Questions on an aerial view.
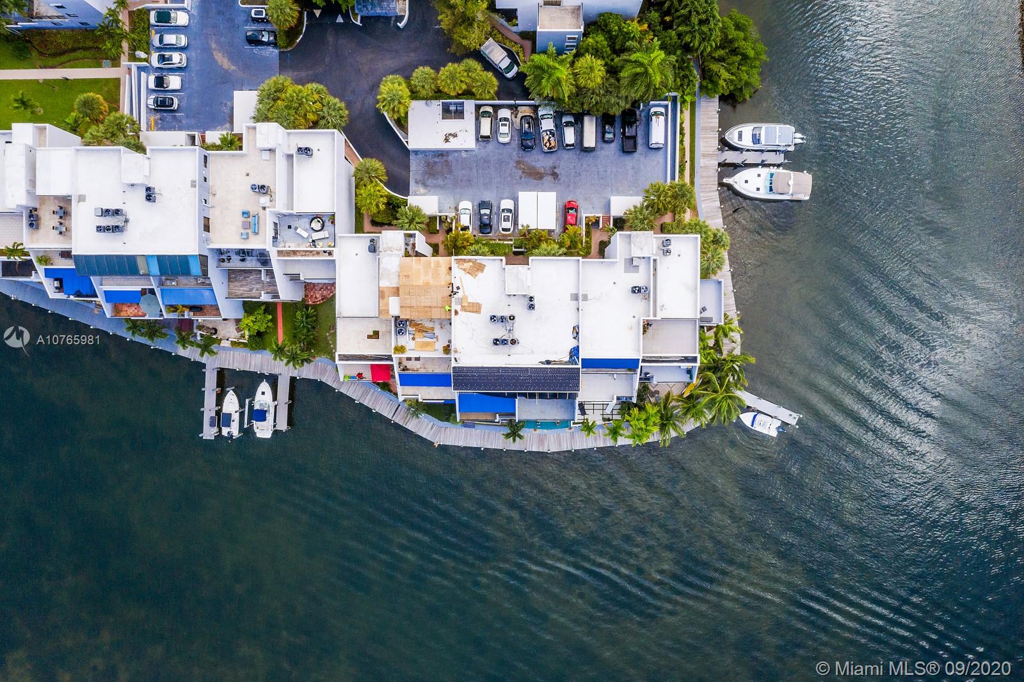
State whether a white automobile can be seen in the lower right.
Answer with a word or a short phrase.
No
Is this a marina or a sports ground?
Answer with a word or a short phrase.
marina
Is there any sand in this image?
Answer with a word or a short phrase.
No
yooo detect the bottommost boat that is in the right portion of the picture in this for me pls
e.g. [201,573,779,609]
[740,415,787,440]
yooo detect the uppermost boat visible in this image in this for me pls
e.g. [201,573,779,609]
[723,122,804,150]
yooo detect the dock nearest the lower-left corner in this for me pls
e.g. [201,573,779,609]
[203,362,217,439]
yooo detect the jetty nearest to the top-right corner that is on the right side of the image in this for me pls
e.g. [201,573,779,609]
[717,151,784,164]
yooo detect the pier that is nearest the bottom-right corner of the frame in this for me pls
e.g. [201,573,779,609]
[731,390,800,425]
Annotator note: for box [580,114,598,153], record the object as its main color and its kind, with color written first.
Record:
white vehicle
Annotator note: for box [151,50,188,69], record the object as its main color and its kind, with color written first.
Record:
white car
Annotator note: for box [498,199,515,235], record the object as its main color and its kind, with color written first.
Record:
white car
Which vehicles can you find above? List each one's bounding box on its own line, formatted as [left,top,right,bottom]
[498,199,515,235]
[245,6,268,23]
[519,115,536,152]
[564,200,579,233]
[496,109,512,145]
[148,74,183,91]
[480,33,519,78]
[152,32,189,50]
[580,114,598,153]
[151,50,188,69]
[458,200,474,235]
[539,106,558,154]
[148,94,180,111]
[601,113,617,144]
[621,109,639,154]
[151,11,190,28]
[478,200,494,235]
[245,28,279,47]
[478,105,495,142]
[648,107,667,149]
[560,114,577,150]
